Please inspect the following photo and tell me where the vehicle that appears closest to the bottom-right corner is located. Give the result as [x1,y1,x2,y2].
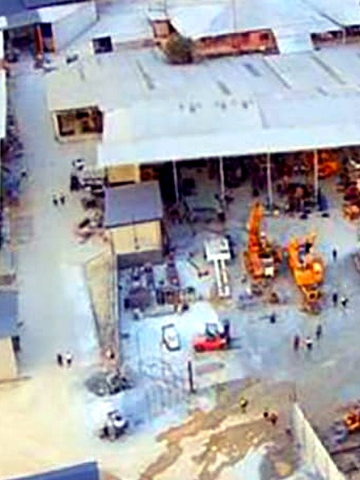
[190,316,242,352]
